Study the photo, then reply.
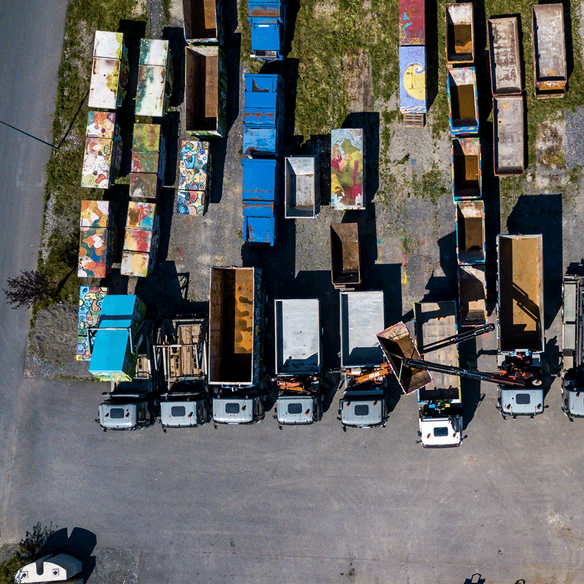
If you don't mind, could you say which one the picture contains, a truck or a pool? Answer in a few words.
truck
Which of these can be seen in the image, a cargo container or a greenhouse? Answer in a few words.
cargo container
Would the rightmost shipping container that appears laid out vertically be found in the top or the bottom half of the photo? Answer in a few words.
top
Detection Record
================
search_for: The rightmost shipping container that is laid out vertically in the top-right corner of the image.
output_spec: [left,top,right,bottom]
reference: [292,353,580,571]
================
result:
[531,3,567,82]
